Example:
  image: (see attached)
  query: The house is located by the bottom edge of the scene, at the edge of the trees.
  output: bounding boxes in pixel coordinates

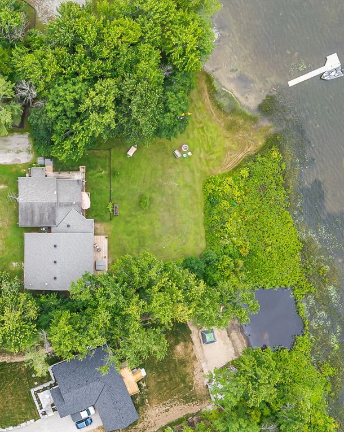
[50,344,144,431]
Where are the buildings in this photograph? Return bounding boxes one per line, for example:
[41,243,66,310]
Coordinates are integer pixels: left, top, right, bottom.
[50,344,144,431]
[7,165,108,291]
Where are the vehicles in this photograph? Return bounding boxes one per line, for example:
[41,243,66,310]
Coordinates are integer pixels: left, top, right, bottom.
[70,406,95,422]
[75,416,93,429]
